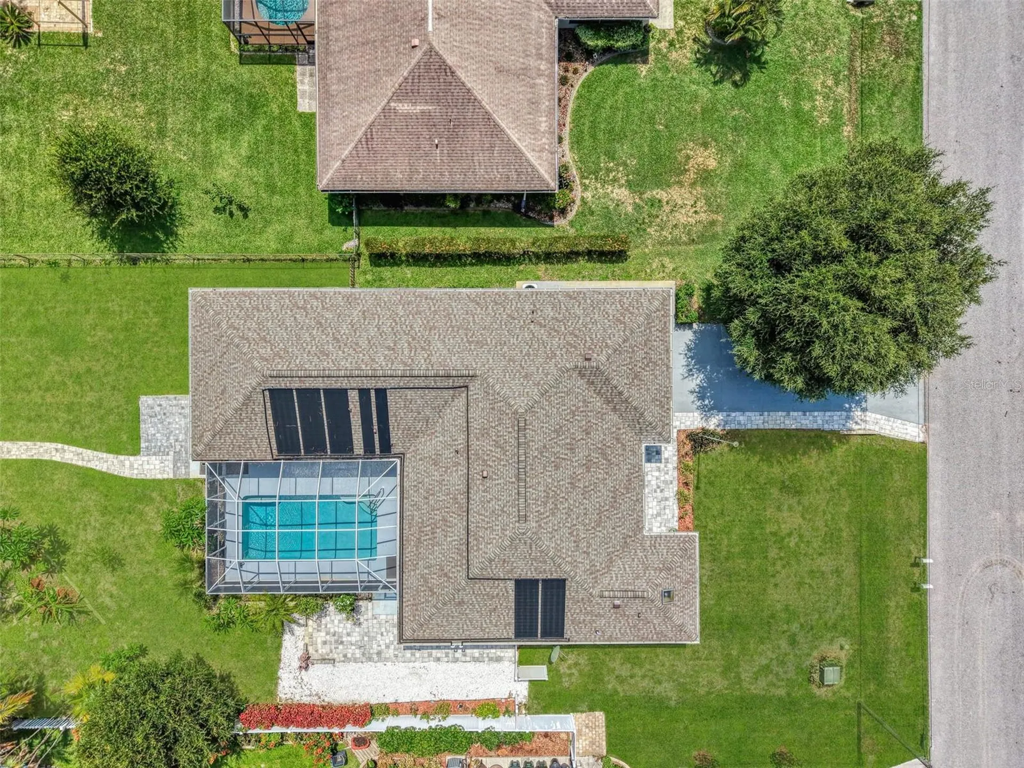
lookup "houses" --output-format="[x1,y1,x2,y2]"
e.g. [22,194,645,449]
[188,286,700,646]
[316,0,661,211]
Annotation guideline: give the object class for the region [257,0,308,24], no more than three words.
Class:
swimming pool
